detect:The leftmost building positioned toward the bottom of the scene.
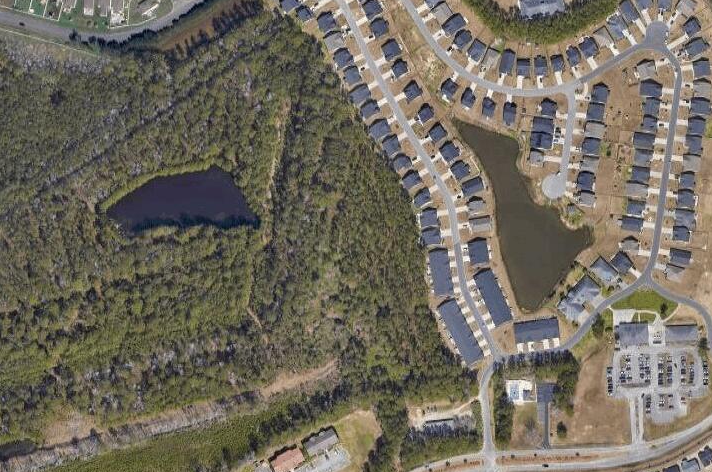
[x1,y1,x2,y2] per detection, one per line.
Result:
[271,447,305,472]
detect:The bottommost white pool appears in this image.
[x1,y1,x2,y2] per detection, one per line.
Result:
[506,380,536,402]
